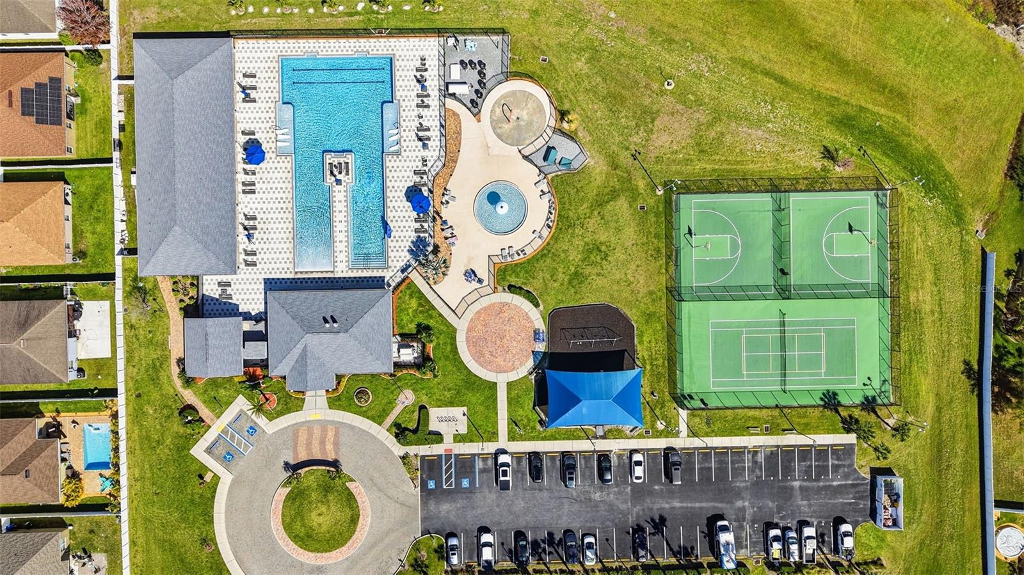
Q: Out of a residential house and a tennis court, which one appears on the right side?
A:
tennis court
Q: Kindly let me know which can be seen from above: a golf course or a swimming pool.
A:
swimming pool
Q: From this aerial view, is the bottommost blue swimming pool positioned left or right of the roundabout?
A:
left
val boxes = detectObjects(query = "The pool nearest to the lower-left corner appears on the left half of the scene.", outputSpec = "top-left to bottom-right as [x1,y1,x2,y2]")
[82,421,113,473]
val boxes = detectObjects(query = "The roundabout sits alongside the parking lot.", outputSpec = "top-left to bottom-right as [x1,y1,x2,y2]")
[214,410,420,575]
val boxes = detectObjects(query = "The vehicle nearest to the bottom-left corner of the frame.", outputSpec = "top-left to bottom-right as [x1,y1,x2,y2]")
[446,536,460,566]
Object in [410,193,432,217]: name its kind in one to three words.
umbrella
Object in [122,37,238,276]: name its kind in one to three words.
building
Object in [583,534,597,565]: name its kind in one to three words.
car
